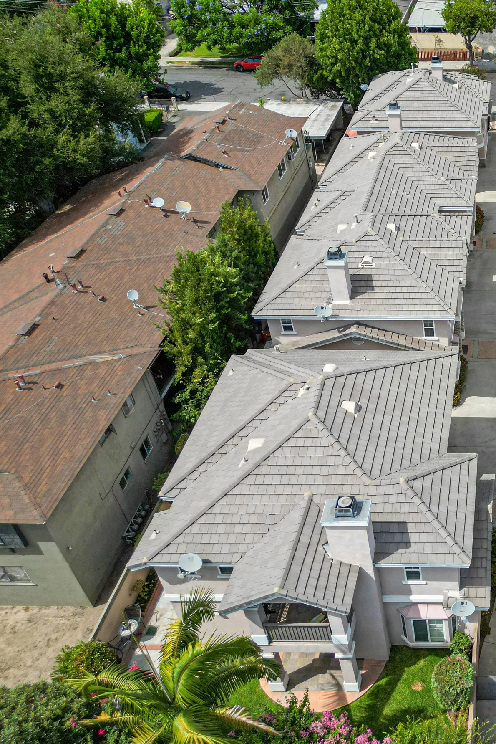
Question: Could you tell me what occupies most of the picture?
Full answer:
Most of the picture is covered by buildings.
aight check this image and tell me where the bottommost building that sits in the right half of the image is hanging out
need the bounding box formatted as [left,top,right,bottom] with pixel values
[129,344,495,693]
